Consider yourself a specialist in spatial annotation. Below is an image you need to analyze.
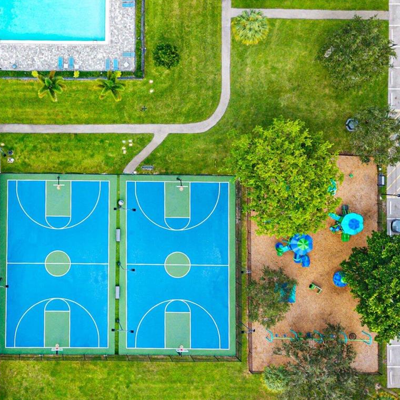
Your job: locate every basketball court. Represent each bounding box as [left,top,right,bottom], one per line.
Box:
[0,175,117,355]
[120,175,236,356]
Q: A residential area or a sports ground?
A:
sports ground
